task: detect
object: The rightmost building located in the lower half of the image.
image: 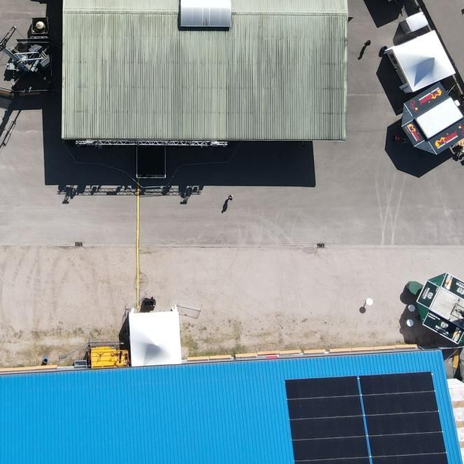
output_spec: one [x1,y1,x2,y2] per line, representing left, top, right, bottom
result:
[413,272,464,341]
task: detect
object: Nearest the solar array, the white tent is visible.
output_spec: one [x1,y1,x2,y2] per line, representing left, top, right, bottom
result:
[130,307,181,366]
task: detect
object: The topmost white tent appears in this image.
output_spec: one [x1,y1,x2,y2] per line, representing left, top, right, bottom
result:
[385,31,455,93]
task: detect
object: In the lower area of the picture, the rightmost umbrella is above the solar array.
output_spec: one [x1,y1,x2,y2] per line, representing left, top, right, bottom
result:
[405,279,421,296]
